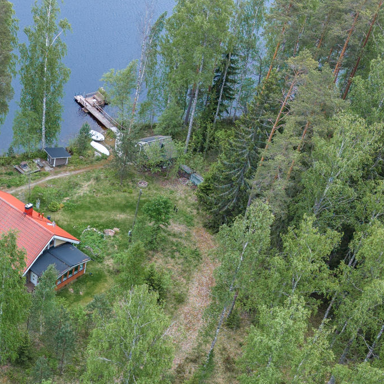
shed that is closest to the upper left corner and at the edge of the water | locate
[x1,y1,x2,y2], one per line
[48,142,74,167]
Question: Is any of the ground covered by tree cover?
Yes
